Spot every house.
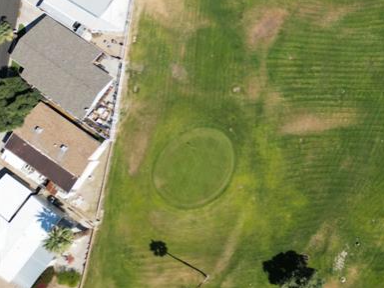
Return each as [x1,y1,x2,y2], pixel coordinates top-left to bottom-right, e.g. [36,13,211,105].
[11,14,118,119]
[0,172,66,288]
[2,102,107,195]
[38,0,131,33]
